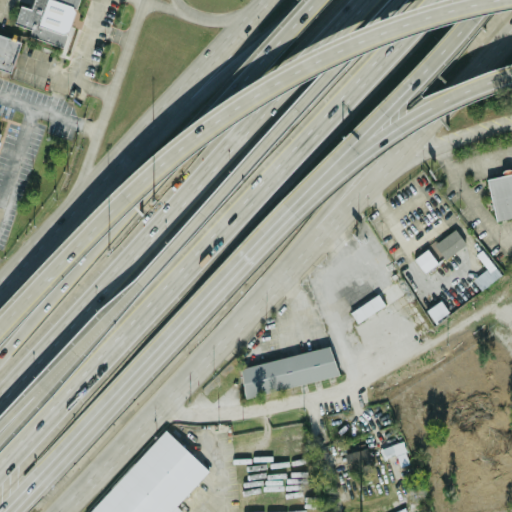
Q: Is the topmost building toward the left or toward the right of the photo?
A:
left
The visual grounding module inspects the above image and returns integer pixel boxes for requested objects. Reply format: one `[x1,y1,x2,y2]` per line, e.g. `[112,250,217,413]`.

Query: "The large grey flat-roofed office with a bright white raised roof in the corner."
[16,0,80,48]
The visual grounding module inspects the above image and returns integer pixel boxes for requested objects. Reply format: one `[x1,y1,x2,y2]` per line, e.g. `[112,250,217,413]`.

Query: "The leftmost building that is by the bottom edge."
[92,432,210,512]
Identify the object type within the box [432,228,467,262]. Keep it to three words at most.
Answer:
house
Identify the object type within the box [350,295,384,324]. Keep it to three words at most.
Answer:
shed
